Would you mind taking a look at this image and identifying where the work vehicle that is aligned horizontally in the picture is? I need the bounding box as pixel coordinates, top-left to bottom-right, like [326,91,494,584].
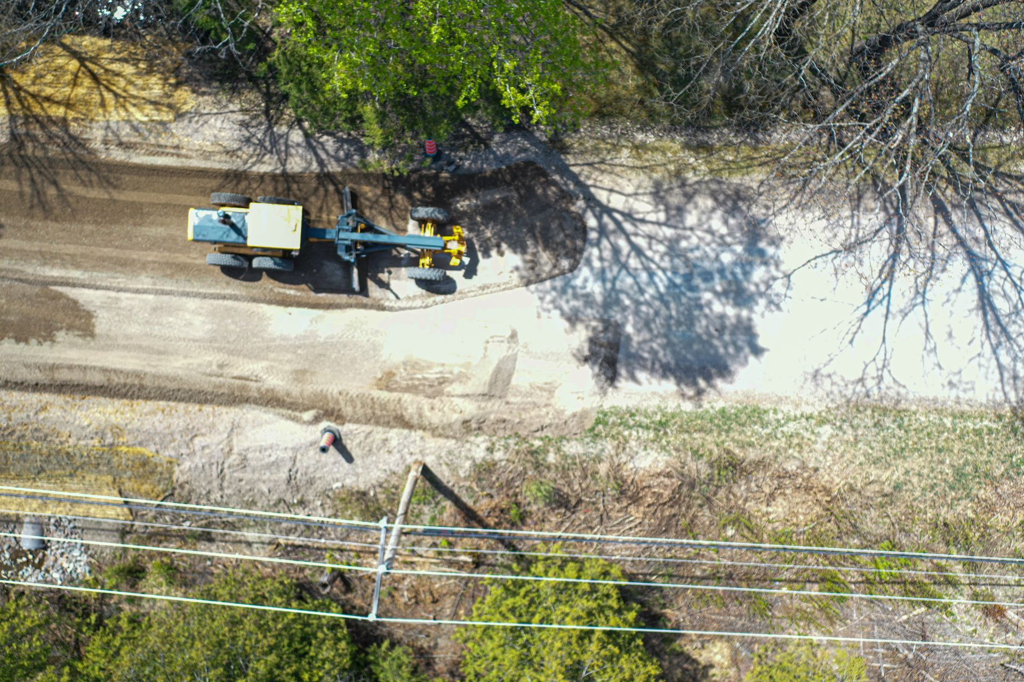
[188,186,472,292]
